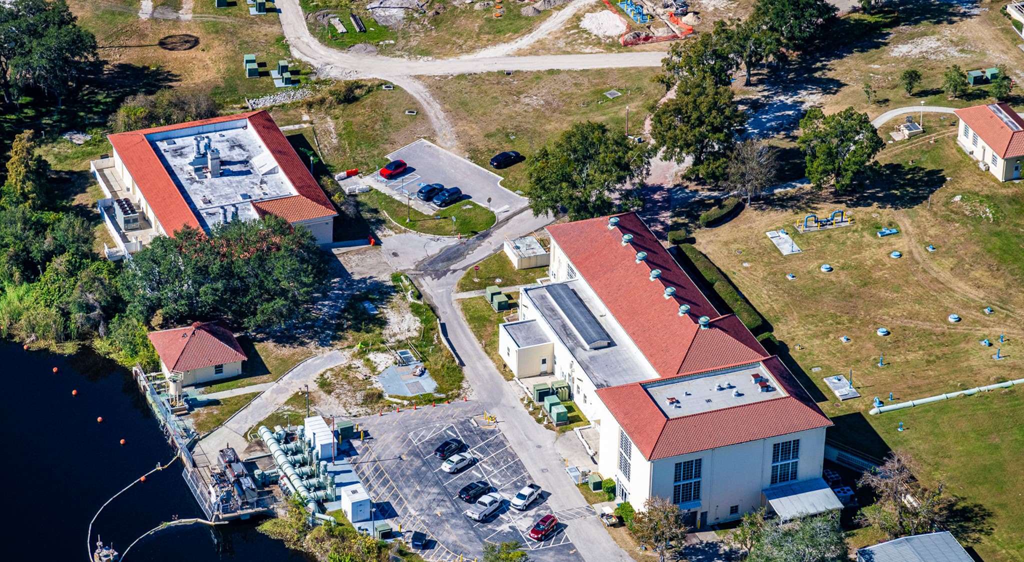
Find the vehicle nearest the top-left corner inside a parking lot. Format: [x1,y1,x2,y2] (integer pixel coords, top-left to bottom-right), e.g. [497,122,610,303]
[379,158,409,178]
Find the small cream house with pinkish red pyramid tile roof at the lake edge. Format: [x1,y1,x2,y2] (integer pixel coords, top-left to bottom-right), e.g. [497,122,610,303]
[147,321,247,384]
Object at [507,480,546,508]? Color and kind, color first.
white truck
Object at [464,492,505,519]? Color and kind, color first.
white truck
